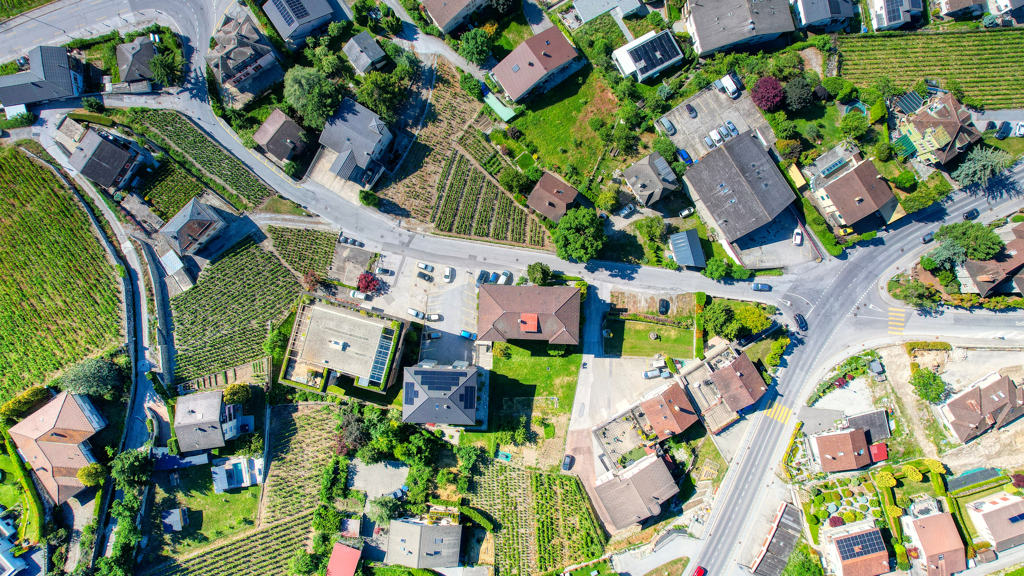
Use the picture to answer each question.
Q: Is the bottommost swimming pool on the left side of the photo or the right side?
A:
left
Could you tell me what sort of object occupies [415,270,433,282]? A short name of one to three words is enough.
vehicle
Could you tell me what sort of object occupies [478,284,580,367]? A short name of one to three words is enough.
house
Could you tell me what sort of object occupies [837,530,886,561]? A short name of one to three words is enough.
solar panel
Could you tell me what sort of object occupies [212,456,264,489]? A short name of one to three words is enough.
swimming pool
